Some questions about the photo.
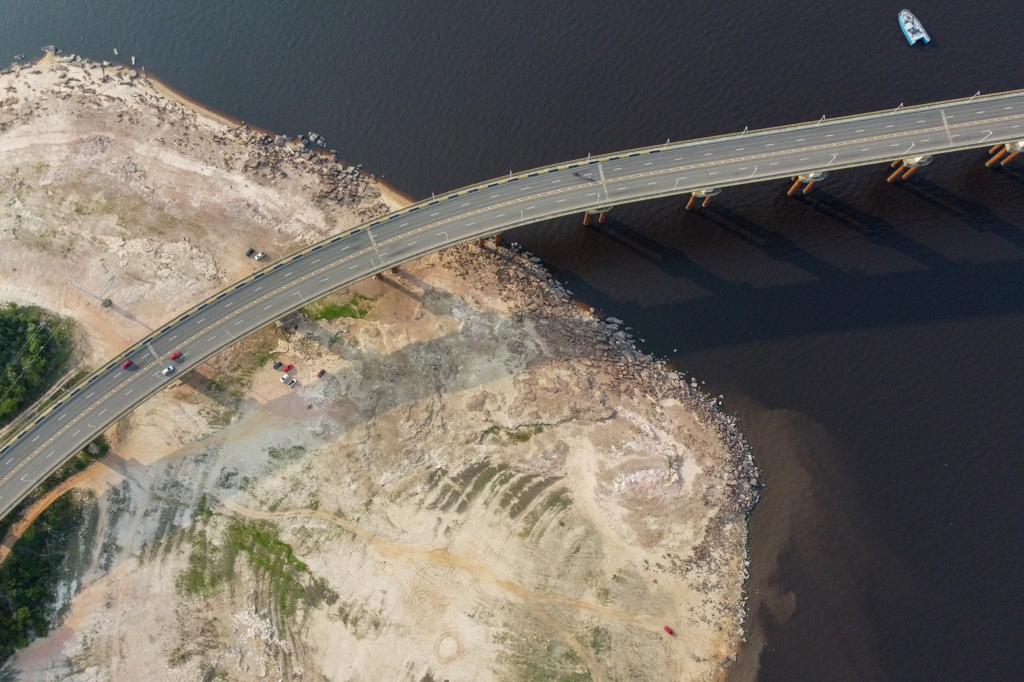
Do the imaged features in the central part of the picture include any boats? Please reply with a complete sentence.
No, I see no boat in the central part of the picture.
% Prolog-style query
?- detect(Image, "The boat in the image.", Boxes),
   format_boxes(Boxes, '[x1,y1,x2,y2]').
[899,6,931,45]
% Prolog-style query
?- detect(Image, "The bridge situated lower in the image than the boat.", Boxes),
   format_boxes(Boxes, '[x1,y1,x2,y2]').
[0,87,1024,522]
